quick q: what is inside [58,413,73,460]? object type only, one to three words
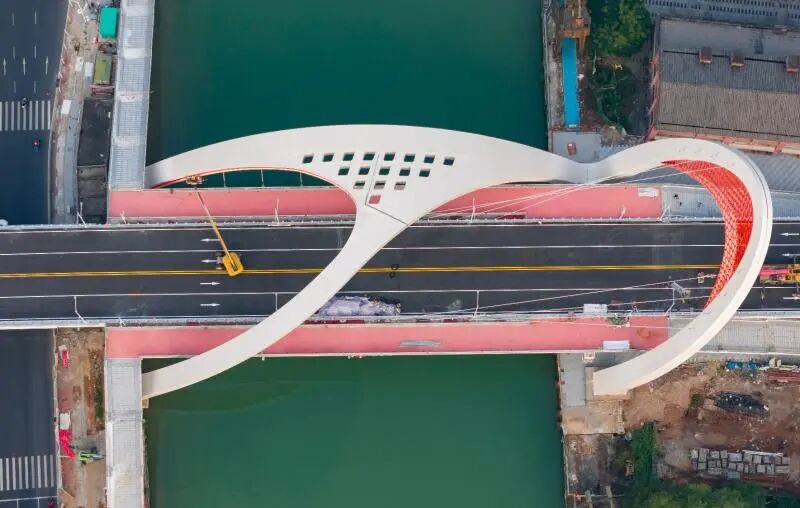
vehicle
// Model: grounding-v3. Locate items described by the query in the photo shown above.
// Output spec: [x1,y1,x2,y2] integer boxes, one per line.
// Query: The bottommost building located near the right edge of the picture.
[641,16,800,154]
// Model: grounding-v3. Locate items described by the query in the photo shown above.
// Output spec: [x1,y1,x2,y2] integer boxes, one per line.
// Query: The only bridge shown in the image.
[0,183,800,360]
